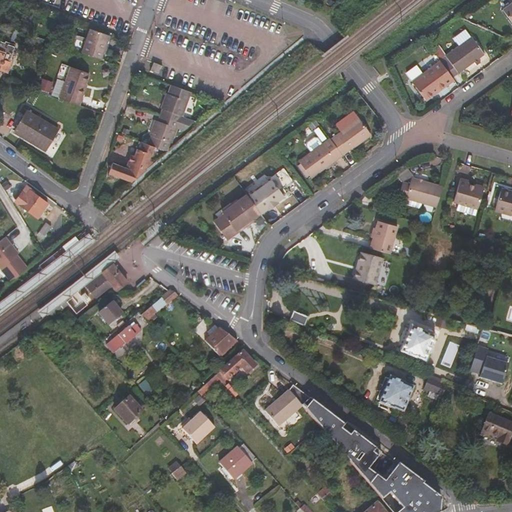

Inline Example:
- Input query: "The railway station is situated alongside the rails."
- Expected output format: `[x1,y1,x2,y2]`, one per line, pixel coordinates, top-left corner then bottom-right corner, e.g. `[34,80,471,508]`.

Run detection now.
[0,236,132,348]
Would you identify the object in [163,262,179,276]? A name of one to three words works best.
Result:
vehicle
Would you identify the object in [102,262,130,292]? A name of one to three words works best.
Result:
building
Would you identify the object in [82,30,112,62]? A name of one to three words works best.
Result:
house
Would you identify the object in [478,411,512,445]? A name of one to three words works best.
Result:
house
